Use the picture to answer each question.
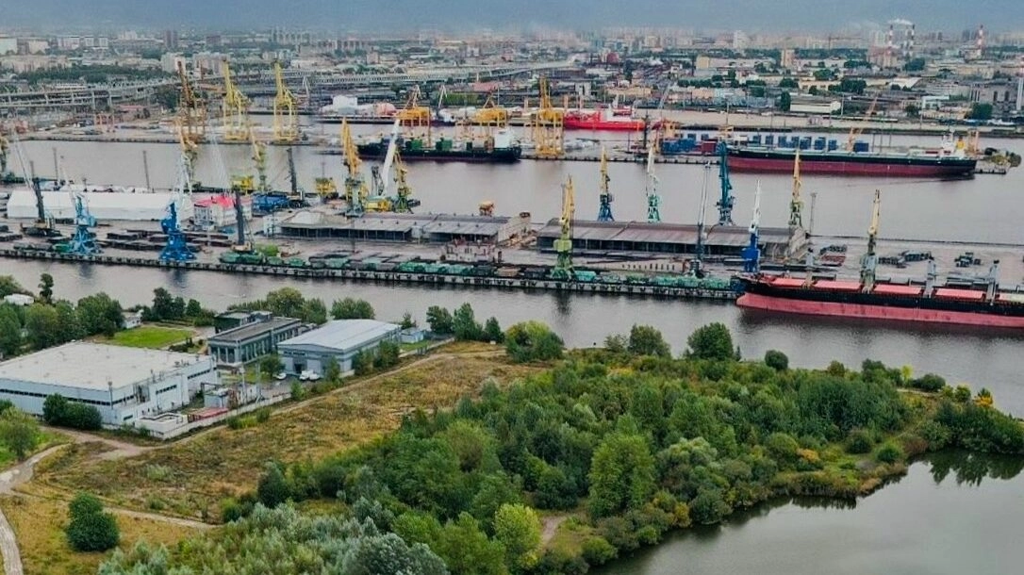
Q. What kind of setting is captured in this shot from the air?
port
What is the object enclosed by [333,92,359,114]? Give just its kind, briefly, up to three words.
building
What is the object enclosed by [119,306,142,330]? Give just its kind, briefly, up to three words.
house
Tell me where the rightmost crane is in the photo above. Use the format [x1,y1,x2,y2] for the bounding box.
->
[963,128,989,162]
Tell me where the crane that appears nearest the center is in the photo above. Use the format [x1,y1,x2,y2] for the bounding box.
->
[550,174,577,279]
